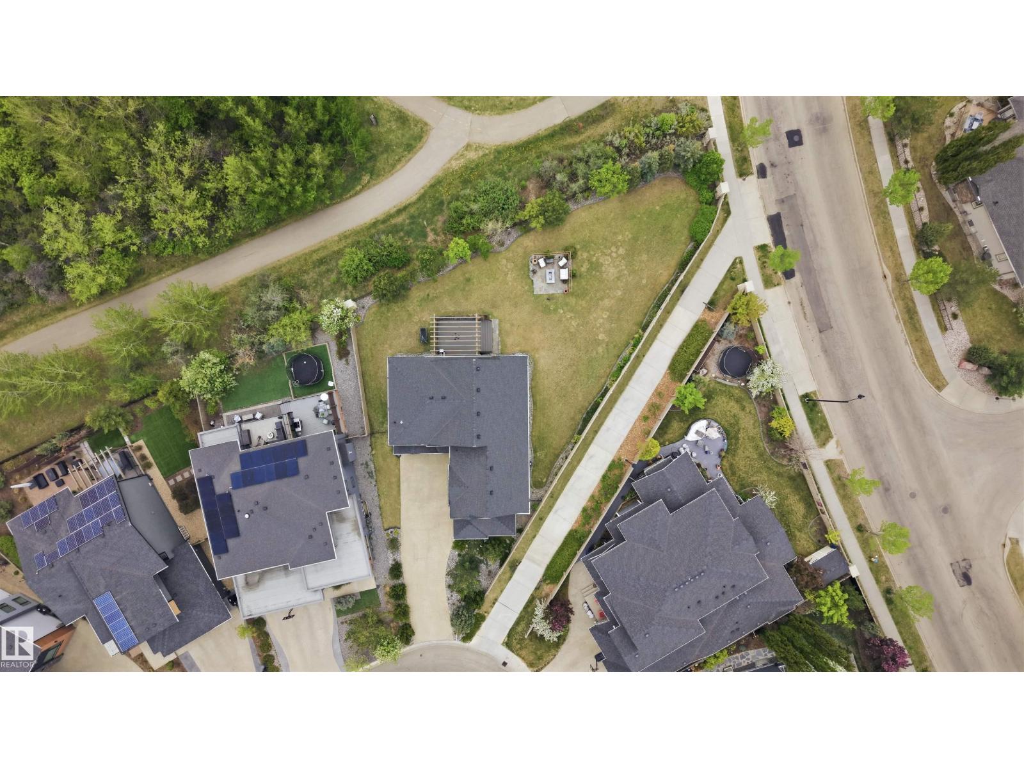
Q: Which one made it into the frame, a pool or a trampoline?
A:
trampoline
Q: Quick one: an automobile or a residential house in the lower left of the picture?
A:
residential house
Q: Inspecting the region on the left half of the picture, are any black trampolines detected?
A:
Yes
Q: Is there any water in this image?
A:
No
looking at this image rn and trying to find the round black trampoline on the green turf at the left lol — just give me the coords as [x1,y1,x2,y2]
[284,351,326,388]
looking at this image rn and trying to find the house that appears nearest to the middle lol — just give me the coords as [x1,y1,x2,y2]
[387,354,531,540]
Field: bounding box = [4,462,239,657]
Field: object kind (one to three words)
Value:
house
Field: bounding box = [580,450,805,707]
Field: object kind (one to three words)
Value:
house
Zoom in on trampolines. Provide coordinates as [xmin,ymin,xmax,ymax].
[284,351,326,388]
[716,344,759,381]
